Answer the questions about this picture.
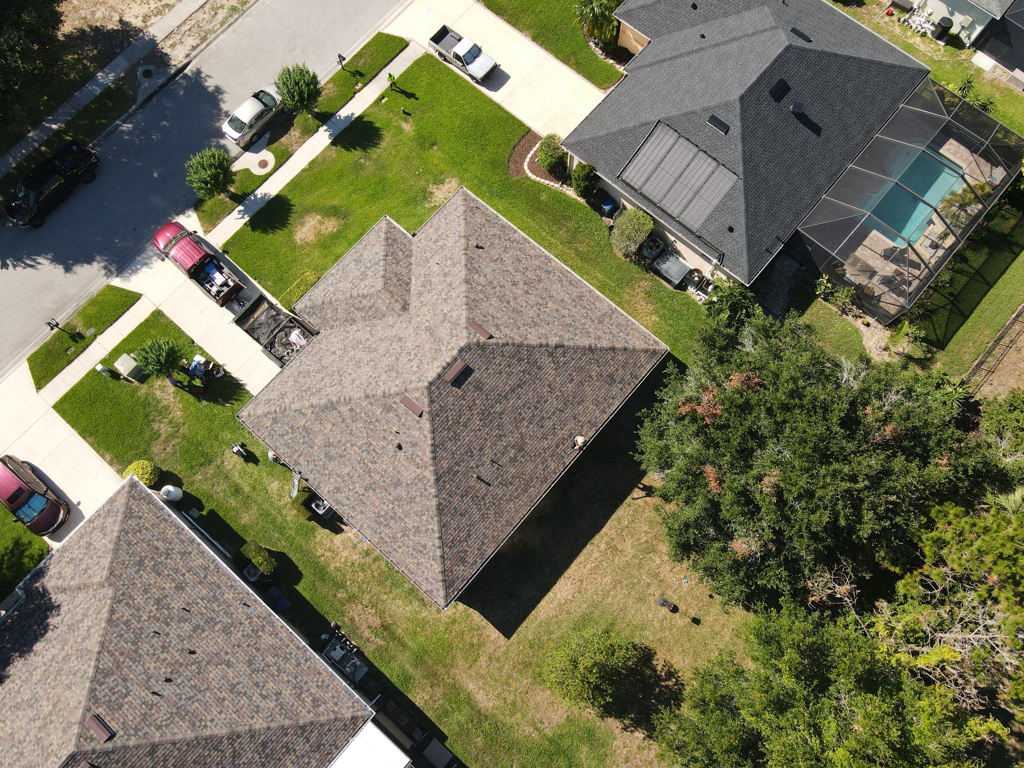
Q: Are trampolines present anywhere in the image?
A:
No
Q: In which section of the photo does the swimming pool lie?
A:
top right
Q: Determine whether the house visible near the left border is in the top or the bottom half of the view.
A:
bottom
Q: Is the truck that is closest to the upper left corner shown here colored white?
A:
No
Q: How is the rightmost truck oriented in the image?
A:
at an angle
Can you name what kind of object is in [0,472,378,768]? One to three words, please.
house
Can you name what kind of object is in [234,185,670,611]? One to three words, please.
house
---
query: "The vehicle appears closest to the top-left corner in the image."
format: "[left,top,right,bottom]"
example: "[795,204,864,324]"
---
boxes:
[4,139,103,235]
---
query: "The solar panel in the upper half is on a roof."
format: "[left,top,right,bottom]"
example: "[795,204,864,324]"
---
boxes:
[614,112,745,274]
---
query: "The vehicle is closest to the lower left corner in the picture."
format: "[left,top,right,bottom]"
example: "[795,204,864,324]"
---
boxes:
[0,452,74,537]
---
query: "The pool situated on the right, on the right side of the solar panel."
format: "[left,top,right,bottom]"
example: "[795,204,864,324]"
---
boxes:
[851,144,968,250]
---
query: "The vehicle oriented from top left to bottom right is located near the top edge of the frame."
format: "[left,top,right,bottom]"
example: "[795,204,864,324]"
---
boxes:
[429,24,499,85]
